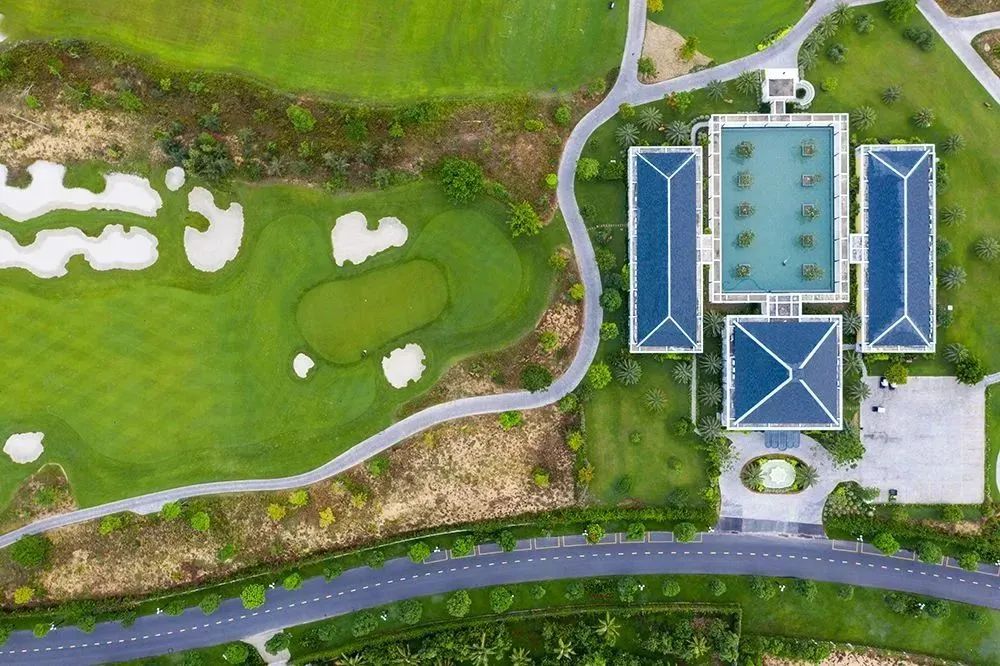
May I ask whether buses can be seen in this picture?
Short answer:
No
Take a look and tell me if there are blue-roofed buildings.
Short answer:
Yes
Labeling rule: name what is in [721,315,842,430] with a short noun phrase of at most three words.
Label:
building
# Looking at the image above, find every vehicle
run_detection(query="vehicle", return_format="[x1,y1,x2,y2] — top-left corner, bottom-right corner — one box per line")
[886,380,900,393]
[878,377,890,391]
[871,406,888,413]
[889,489,898,502]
